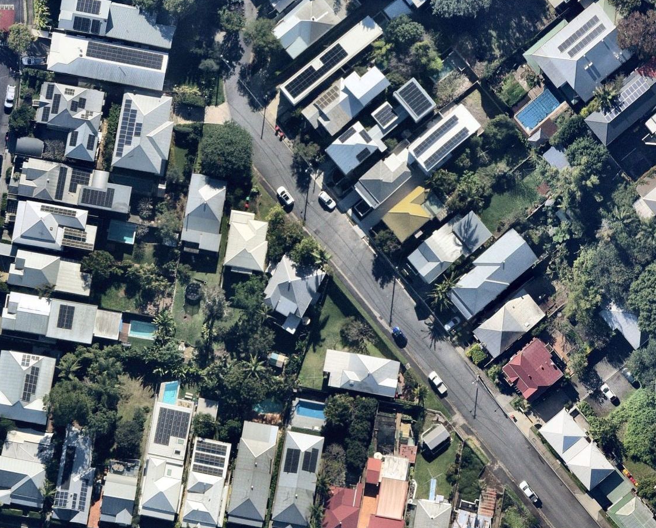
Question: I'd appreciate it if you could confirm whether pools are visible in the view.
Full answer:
Yes, a pool appears in the view.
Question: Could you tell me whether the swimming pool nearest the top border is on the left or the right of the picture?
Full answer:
It is on the right.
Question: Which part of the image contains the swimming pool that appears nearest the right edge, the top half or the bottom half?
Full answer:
The swimming pool that appears nearest the right edge sits in the top half of the picture.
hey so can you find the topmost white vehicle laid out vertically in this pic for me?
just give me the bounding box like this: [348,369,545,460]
[3,82,15,109]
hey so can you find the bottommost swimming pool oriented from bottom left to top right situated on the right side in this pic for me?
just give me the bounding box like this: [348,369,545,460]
[513,86,562,133]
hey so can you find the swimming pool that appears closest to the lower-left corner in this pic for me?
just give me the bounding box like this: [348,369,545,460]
[162,380,179,405]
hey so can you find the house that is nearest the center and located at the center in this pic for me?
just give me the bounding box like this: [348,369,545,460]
[263,254,327,333]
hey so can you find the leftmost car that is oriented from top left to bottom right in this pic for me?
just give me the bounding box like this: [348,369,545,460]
[274,184,296,208]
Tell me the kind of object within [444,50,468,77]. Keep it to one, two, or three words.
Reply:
swimming pool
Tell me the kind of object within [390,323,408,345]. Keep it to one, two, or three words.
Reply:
car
